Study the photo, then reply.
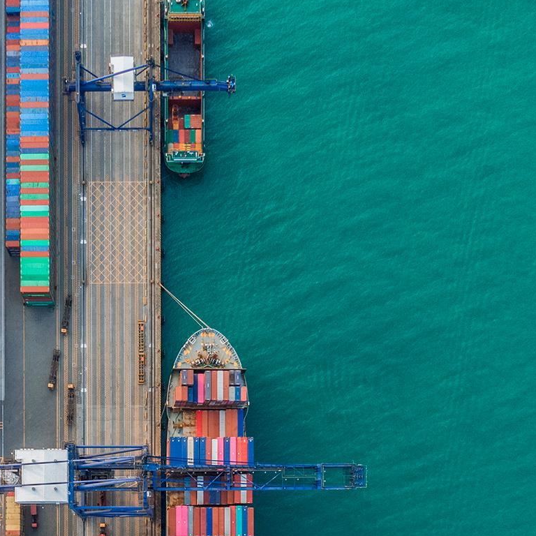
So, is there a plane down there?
No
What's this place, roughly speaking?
port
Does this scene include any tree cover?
No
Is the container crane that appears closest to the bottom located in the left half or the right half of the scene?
left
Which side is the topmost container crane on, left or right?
left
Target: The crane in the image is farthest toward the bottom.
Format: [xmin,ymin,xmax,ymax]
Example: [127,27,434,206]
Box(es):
[0,435,368,532]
